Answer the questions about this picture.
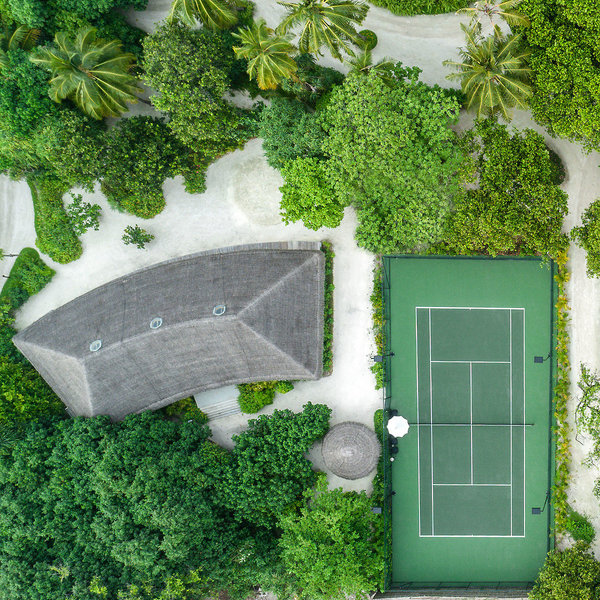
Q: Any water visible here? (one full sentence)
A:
No, there is no water in the image.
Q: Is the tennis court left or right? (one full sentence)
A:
The tennis court is on the right side of the image.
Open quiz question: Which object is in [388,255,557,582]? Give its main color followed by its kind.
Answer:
green tennis court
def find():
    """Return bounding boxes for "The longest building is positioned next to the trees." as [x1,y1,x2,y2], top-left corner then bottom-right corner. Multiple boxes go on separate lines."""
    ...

[12,241,325,424]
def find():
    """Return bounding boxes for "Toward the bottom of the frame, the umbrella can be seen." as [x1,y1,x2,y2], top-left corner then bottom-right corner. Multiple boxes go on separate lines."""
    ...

[387,415,410,438]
